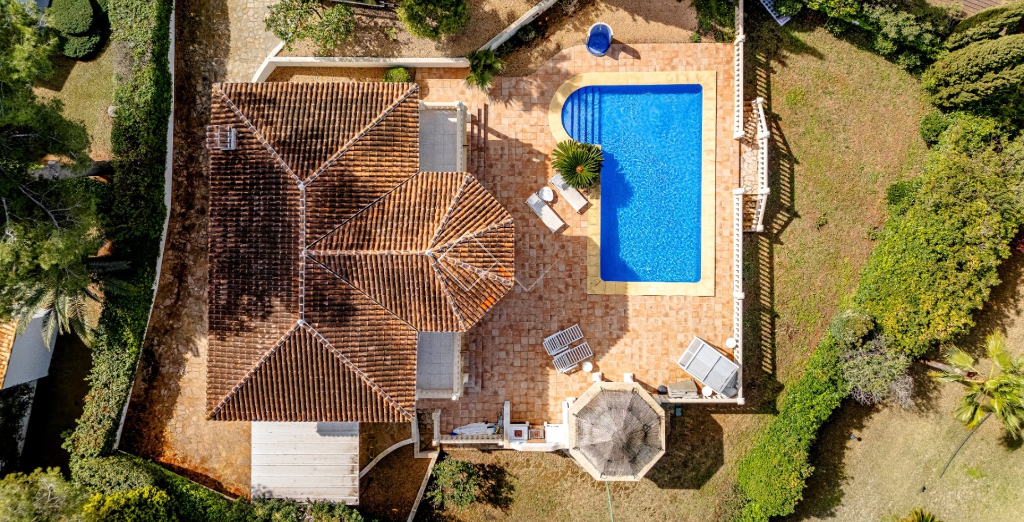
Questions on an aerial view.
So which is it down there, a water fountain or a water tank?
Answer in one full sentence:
There is a water fountain in the scene.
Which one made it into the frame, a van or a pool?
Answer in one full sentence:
Looking from above, you can make out a pool.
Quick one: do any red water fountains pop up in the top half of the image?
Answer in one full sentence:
No, I can find no red water fountain in the top half of the image.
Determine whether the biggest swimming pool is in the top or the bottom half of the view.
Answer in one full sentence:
The biggest swimming pool is in the top half of the image.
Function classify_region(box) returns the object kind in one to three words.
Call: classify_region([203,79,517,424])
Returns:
house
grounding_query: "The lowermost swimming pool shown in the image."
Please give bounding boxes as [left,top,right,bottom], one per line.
[562,84,702,281]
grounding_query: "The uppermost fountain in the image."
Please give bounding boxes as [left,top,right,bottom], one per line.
[585,21,613,59]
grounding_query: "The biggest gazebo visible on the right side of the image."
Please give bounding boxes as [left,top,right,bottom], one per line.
[567,375,665,481]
